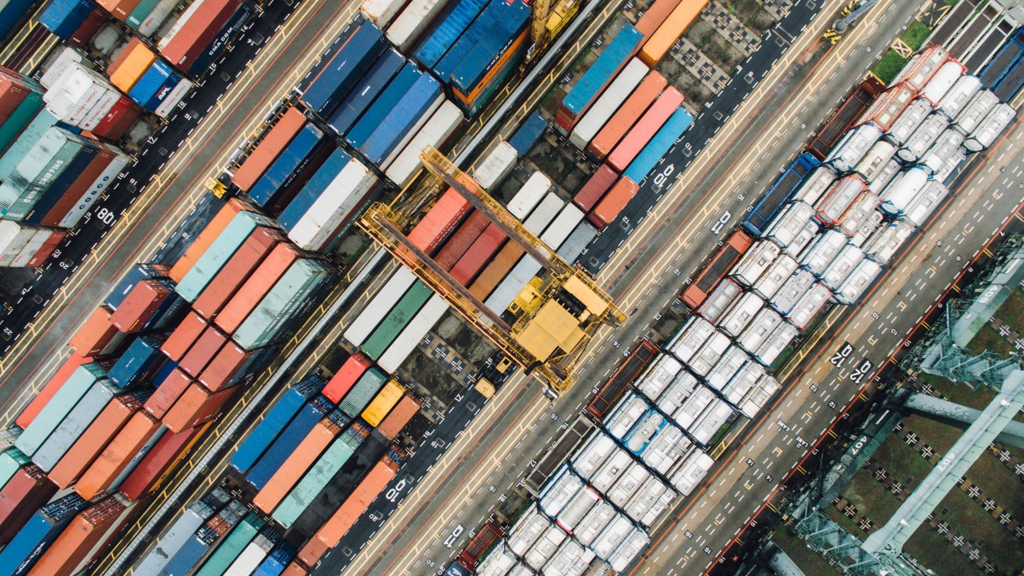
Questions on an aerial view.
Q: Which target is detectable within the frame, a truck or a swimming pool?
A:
truck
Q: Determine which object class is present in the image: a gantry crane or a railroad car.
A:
gantry crane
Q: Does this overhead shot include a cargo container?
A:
Yes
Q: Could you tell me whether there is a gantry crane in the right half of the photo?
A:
Yes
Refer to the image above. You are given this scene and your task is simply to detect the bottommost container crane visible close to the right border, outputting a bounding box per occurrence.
[767,376,1024,576]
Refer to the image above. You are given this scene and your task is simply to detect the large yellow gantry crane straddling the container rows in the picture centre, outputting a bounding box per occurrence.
[355,138,636,400]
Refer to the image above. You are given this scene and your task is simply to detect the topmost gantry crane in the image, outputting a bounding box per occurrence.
[515,0,582,75]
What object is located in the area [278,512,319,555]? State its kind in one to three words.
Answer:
shipping container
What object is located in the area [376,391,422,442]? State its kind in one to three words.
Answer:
shipping container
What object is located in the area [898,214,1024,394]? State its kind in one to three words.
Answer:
container crane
